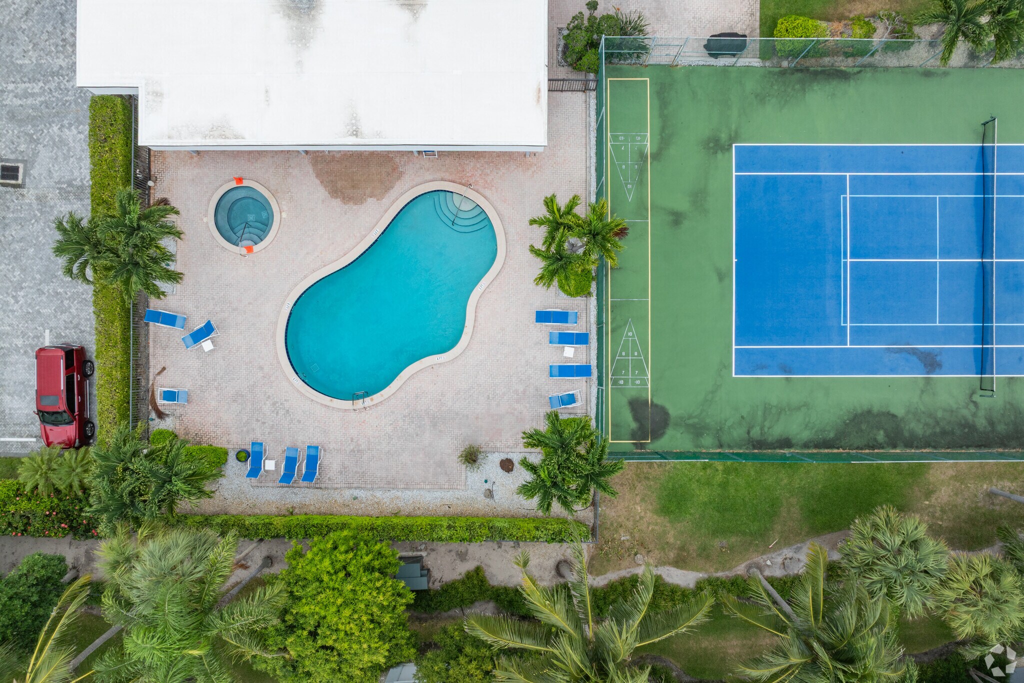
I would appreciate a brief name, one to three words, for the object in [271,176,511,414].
swimming pool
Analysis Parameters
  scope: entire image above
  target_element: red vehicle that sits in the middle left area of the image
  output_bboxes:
[33,342,97,449]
